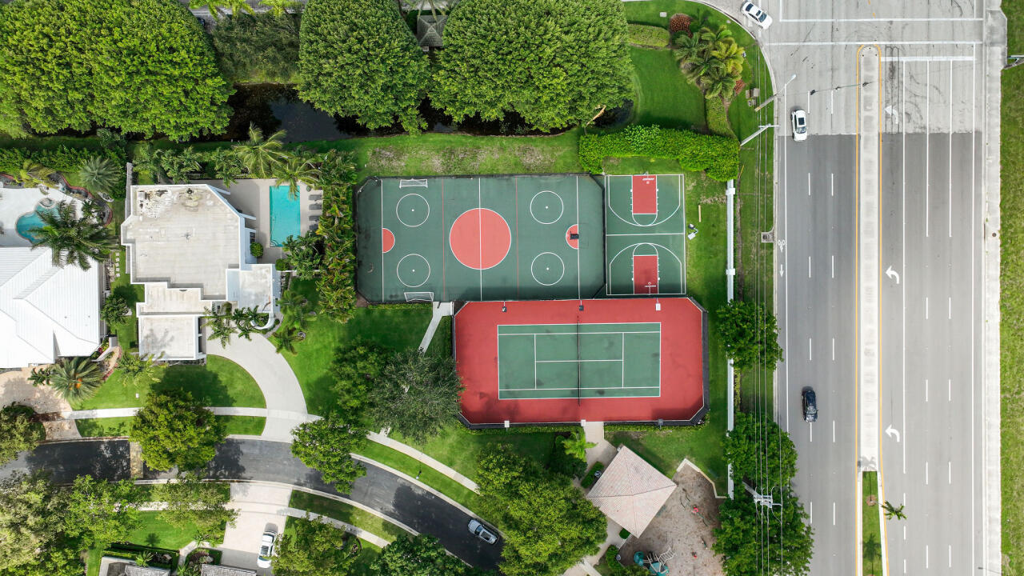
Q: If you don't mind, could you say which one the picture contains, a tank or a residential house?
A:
residential house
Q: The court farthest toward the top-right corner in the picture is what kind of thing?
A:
basketball court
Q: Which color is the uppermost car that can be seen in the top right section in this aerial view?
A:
white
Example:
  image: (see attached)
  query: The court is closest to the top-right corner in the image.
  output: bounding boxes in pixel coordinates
[605,174,687,297]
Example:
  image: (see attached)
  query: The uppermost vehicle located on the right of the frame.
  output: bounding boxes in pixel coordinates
[742,0,773,26]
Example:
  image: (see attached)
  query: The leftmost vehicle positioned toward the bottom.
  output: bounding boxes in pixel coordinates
[256,532,276,566]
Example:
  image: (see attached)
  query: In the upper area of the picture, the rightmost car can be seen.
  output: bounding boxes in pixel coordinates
[790,109,808,141]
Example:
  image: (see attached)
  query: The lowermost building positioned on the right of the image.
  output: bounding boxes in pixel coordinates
[589,446,677,538]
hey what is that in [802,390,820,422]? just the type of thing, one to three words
car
